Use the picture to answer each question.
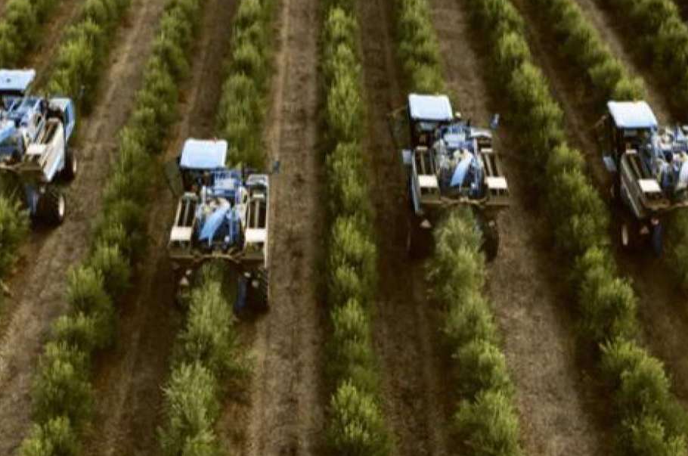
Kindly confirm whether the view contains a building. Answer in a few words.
No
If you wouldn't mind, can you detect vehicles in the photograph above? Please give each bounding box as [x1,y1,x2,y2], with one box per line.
[387,97,504,261]
[161,135,281,315]
[0,69,82,220]
[591,96,688,259]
